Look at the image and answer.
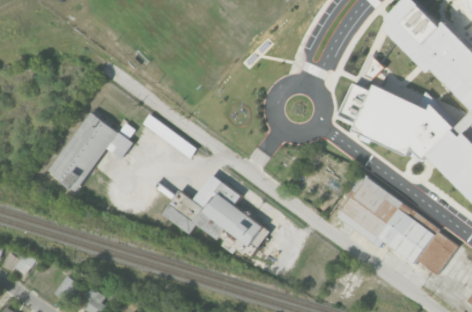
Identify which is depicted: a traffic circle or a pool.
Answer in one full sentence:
It is a traffic circle that can be seen here.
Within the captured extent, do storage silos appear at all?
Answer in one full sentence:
No, there's no storage silo here.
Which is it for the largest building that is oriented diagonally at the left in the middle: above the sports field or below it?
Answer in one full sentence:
In the image, the largest building that is oriented diagonally at the left in the middle appears below the sports field.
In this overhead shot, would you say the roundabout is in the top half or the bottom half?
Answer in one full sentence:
Seen from above, the roundabout lies in the top half of the view.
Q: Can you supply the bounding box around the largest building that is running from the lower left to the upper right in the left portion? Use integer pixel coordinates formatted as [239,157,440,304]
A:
[50,114,119,190]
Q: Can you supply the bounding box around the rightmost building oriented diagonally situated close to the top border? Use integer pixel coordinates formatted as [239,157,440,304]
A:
[384,0,472,113]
